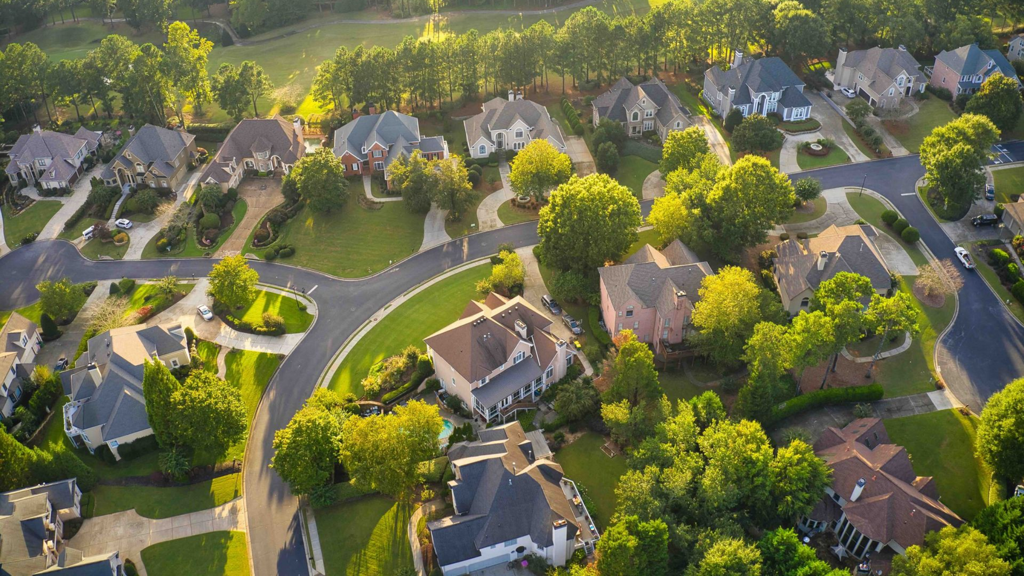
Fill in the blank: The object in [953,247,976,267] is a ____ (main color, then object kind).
white vehicle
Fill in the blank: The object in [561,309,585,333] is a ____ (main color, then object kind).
gray car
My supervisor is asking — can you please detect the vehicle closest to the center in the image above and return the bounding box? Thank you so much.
[541,291,563,314]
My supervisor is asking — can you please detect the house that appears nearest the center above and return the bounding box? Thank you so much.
[420,281,576,422]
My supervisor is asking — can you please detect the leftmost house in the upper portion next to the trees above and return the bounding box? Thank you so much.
[6,125,109,194]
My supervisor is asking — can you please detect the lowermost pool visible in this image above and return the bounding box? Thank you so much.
[415,417,454,449]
